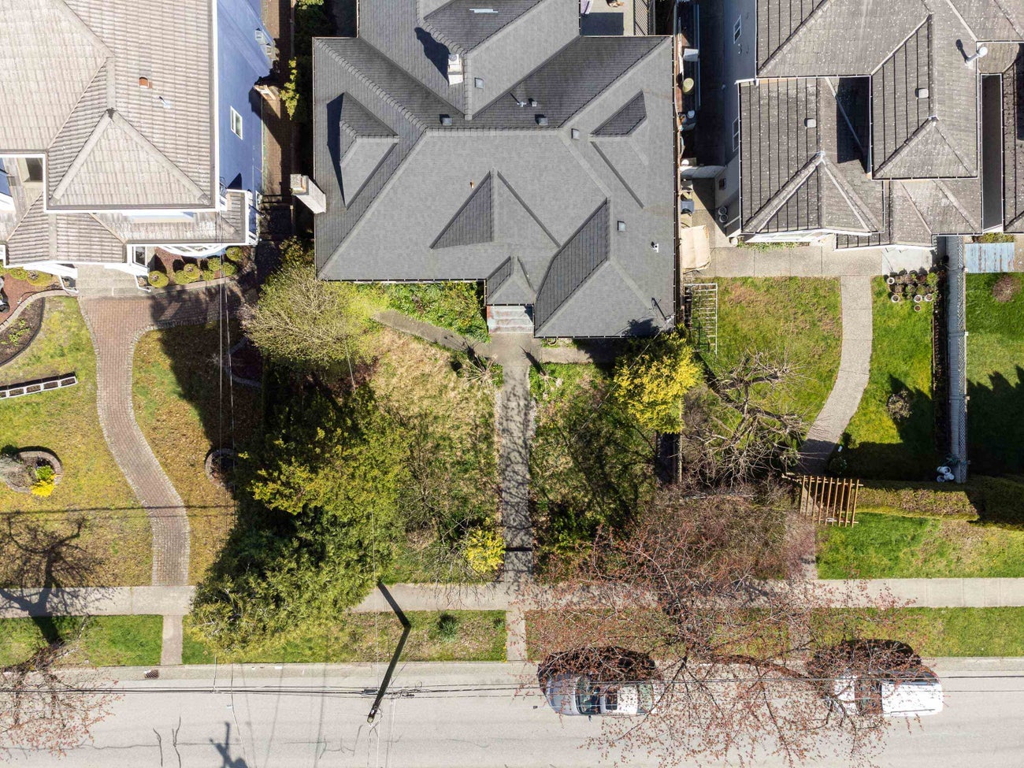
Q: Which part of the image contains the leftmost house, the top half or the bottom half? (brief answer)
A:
top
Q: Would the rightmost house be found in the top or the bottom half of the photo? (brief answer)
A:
top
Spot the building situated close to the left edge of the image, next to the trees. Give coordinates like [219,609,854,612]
[0,0,269,279]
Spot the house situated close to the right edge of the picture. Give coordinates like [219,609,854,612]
[720,0,1024,251]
